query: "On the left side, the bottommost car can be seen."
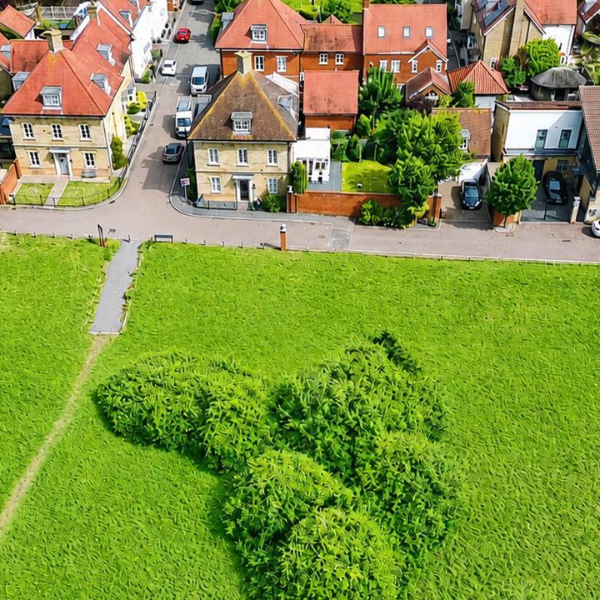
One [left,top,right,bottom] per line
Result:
[159,141,184,166]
